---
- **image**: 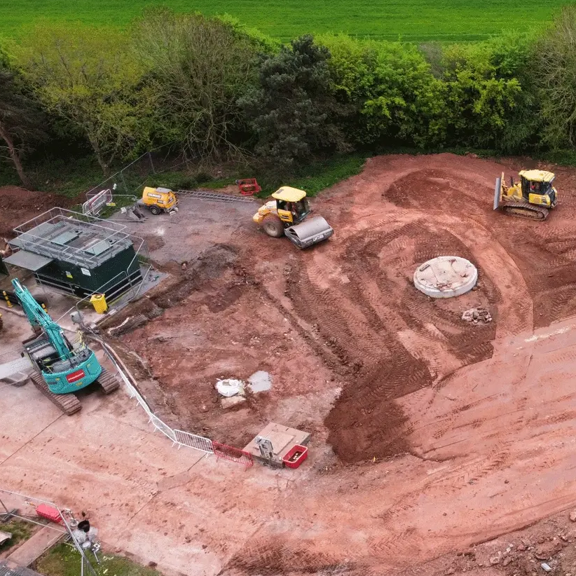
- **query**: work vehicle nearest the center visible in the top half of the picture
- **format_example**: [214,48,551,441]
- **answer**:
[252,191,339,258]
